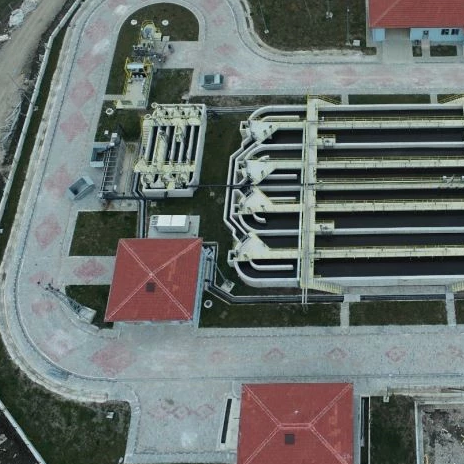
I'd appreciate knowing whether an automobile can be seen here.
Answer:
No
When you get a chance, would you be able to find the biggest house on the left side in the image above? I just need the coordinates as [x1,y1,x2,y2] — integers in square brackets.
[103,237,205,328]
